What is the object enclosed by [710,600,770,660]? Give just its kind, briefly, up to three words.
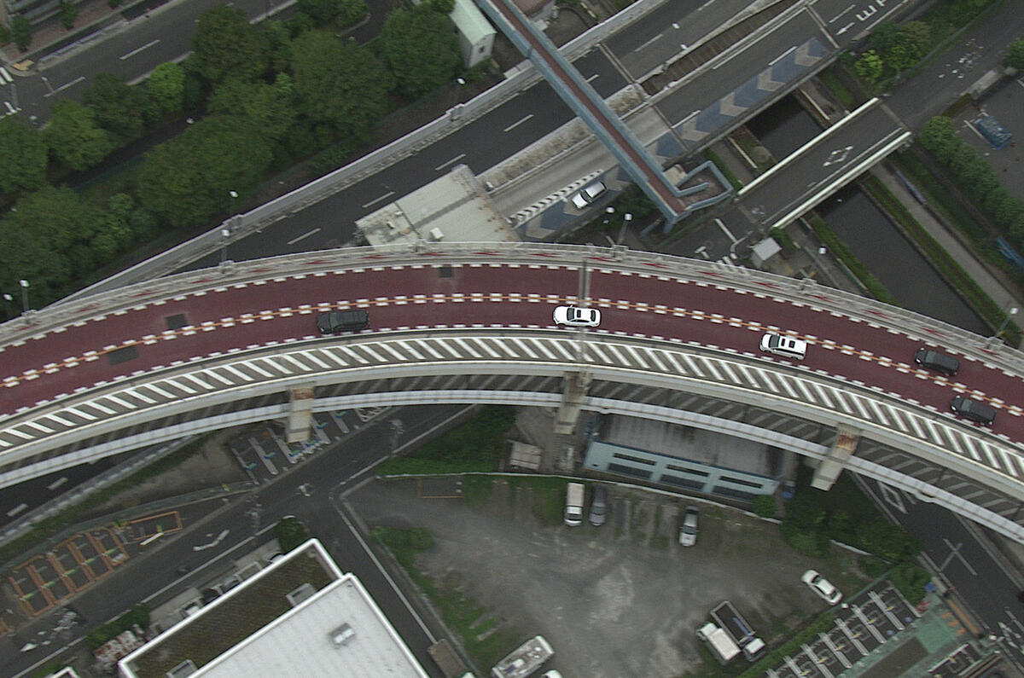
truck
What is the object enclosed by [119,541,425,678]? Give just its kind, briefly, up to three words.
building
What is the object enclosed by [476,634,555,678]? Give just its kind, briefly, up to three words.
truck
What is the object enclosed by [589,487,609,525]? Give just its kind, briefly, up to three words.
car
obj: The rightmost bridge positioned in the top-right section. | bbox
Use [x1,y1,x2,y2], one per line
[738,99,913,234]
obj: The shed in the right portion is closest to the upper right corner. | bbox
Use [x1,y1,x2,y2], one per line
[751,237,783,269]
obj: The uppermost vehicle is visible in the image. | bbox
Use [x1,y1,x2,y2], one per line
[571,177,610,209]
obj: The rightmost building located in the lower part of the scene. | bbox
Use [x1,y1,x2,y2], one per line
[584,409,783,504]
